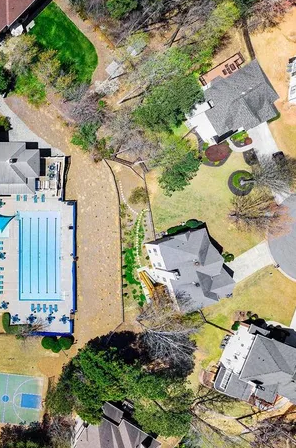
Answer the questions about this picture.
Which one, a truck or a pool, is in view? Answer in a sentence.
The one in the frame is a pool.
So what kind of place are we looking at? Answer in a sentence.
The picture captures a residential area.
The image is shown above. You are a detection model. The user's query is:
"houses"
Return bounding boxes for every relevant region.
[137,227,235,313]
[187,52,279,141]
[205,322,296,414]
[66,415,161,448]
[0,142,39,195]
[287,65,296,109]
[0,0,42,37]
